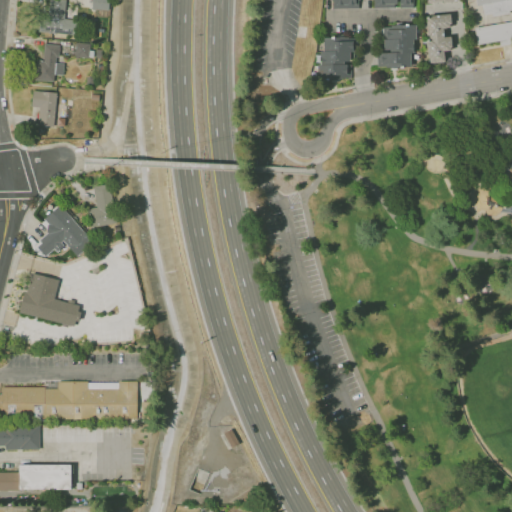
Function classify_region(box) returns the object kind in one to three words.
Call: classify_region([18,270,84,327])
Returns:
building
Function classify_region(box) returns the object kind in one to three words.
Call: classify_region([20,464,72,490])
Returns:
building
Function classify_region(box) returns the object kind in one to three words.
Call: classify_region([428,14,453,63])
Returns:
house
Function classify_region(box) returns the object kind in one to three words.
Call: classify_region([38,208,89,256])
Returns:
house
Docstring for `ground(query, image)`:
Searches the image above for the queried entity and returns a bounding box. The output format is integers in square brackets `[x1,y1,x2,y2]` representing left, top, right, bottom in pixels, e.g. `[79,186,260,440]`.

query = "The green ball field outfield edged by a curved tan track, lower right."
[460,332,512,479]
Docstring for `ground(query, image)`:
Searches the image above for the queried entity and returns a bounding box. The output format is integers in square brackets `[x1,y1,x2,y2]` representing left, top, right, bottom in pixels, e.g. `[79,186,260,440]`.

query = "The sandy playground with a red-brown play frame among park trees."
[473,181,504,219]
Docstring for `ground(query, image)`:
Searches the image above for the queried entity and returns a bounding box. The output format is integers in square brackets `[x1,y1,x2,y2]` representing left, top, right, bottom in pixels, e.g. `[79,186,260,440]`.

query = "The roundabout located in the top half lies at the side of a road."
[284,104,342,158]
